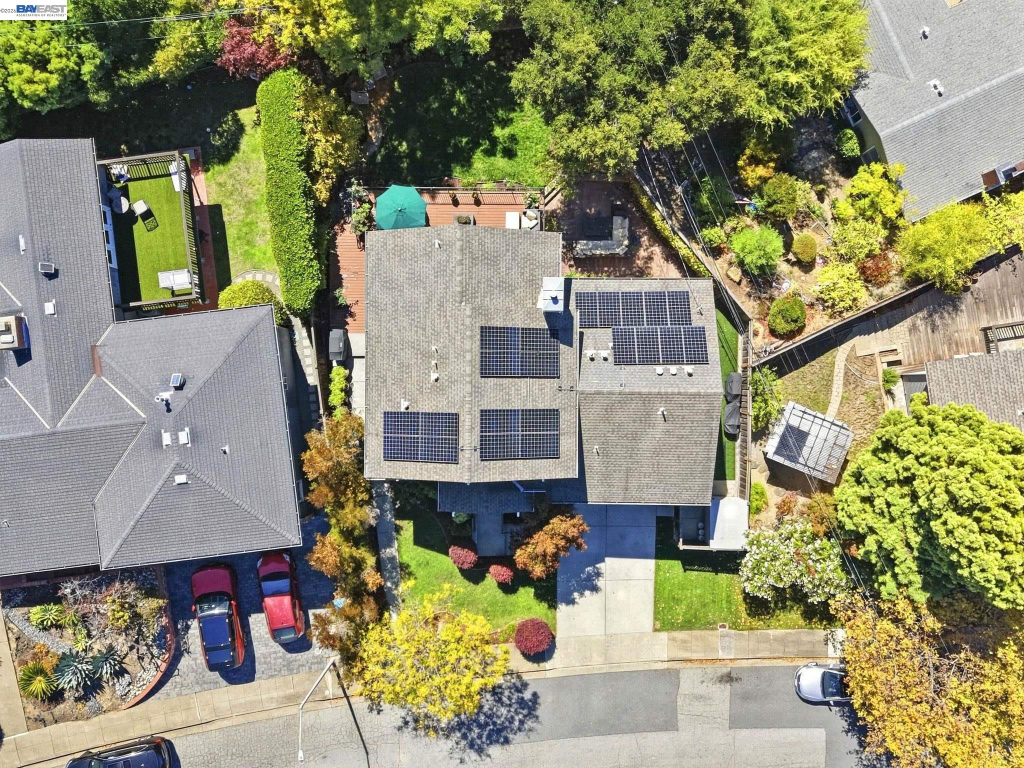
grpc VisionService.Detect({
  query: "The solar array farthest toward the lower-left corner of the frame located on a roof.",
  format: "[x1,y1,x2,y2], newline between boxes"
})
[383,411,458,464]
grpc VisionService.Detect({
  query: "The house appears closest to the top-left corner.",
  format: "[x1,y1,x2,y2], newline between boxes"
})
[0,137,313,579]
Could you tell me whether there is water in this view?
No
